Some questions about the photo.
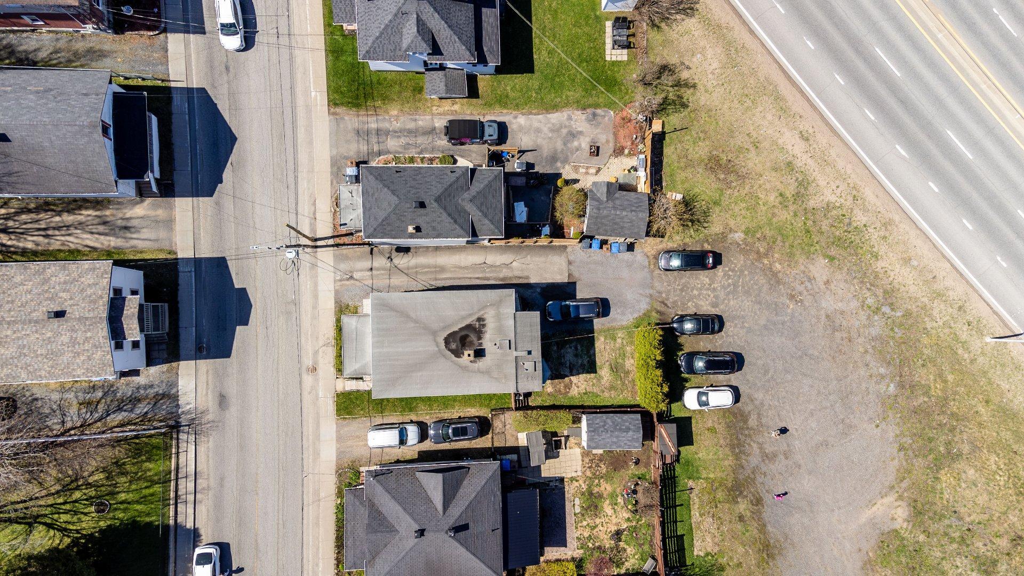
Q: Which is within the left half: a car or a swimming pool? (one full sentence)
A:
There is a car within the left half.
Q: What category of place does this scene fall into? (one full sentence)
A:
This looks like a residential area.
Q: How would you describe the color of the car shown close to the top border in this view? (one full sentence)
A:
In this view, the car shown close to the top border is white.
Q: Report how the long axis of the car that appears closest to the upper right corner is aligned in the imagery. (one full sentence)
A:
The car that appears closest to the upper right corner has been laid out horizontally relative to the frame.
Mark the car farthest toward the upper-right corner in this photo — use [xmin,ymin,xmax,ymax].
[659,248,716,273]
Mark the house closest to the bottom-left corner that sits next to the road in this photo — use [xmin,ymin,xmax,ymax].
[0,259,159,380]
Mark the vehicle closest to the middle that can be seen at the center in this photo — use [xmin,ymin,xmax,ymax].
[546,297,600,321]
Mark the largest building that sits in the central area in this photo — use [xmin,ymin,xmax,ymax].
[341,289,551,399]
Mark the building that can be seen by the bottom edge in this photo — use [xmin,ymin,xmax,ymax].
[345,457,541,576]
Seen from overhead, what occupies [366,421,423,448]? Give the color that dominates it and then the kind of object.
white car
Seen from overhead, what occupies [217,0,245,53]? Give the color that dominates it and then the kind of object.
white car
